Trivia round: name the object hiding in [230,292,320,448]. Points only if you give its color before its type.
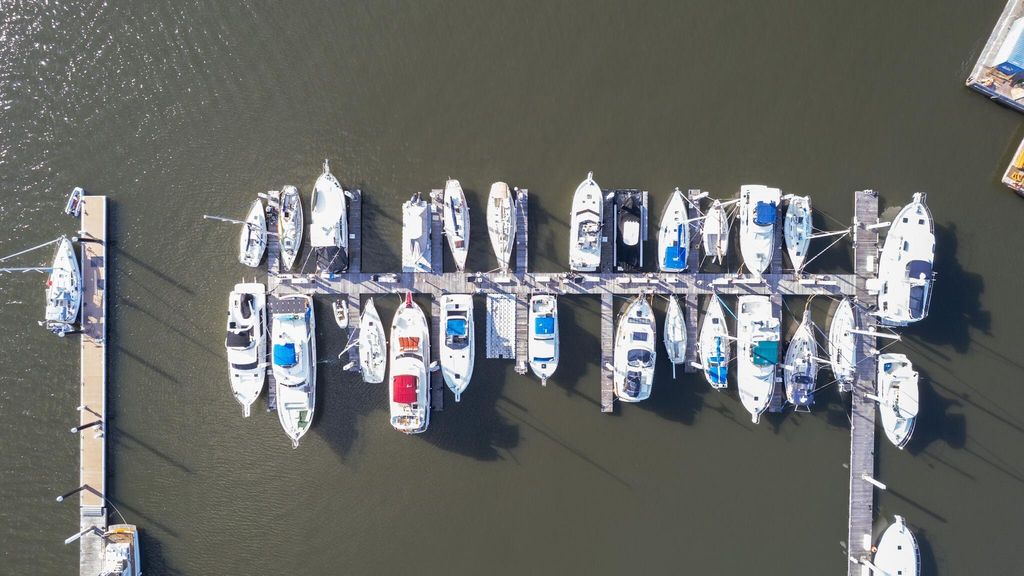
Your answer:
white boat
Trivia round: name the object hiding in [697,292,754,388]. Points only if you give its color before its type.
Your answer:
white boat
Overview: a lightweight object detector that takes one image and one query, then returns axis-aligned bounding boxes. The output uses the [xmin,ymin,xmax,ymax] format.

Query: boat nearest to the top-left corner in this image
[66,187,83,217]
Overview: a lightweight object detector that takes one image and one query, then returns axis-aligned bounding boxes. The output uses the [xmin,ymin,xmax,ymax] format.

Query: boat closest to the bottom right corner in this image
[869,512,921,576]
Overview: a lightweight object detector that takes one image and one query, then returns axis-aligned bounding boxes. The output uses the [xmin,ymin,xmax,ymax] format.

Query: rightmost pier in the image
[847,191,878,576]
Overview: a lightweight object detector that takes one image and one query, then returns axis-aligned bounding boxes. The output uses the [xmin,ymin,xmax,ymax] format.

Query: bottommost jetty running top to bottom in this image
[80,506,108,576]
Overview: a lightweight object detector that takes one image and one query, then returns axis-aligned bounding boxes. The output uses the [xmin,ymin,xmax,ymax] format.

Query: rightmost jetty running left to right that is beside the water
[268,273,854,294]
